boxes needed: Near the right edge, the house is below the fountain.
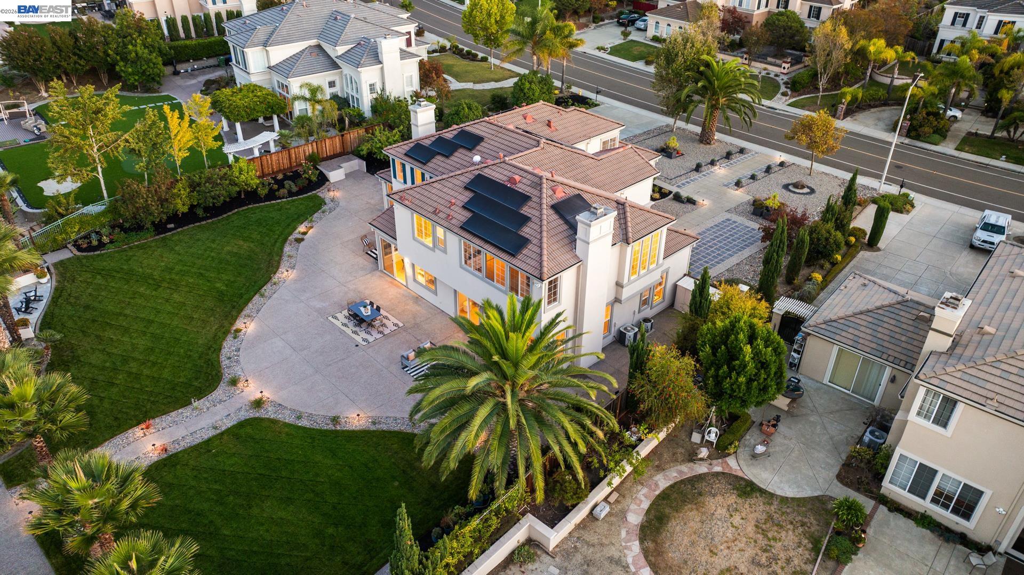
[800,236,1024,567]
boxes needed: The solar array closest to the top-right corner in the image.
[552,193,592,225]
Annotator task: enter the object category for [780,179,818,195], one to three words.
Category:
fountain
